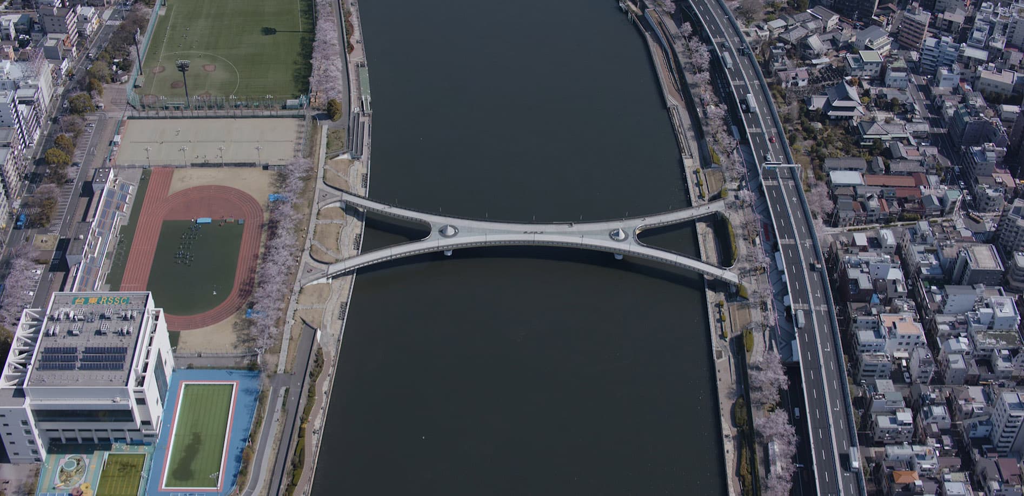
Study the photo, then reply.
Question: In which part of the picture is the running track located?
left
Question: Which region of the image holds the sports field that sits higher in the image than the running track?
top left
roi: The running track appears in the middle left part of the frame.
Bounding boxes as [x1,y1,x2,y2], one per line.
[119,168,264,331]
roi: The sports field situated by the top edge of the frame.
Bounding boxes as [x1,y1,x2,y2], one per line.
[130,0,315,104]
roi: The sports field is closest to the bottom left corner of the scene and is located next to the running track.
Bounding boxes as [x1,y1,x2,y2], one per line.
[165,384,234,487]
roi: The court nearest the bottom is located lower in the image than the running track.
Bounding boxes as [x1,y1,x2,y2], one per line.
[95,452,148,496]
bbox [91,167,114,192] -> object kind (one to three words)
building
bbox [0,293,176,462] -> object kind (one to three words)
building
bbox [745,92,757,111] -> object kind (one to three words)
vehicle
